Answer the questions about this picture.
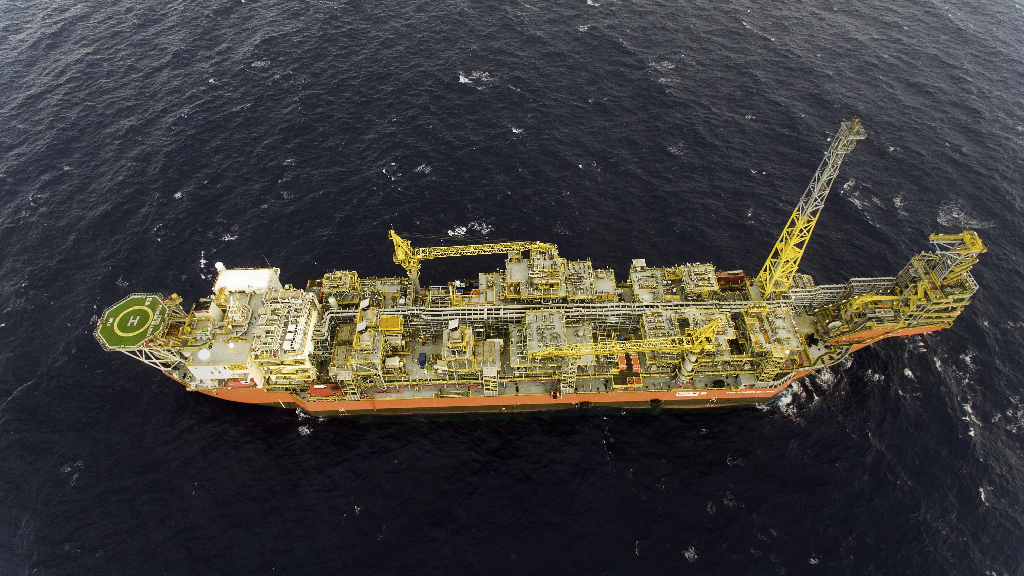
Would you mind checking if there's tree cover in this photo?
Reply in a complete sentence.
No, tree cover can't be seen anywhere here.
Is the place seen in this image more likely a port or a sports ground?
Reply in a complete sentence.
The area seen from above is a port.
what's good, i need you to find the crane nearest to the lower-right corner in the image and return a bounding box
[838,289,918,325]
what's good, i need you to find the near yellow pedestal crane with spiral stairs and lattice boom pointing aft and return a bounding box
[532,314,727,391]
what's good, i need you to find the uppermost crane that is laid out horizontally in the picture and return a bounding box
[385,225,556,294]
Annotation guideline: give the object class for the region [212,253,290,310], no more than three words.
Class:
house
